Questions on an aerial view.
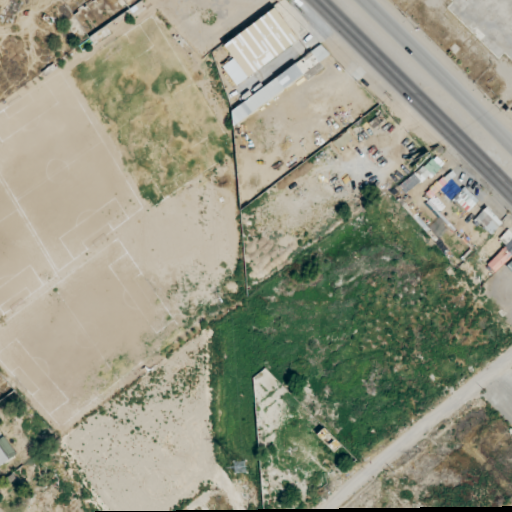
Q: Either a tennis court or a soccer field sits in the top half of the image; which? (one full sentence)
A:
The feature located in the top half of the image is a soccer field.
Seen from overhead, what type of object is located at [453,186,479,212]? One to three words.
building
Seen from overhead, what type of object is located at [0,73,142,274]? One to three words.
soccer field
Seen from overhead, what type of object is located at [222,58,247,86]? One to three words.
shed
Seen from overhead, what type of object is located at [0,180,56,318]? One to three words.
soccer field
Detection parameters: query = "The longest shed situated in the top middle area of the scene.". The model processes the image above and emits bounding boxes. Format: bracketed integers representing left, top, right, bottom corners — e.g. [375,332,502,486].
[228,44,330,124]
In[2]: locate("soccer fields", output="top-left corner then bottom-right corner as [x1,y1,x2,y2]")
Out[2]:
[0,180,56,318]
[65,18,232,204]
[0,73,142,274]
[0,240,182,426]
